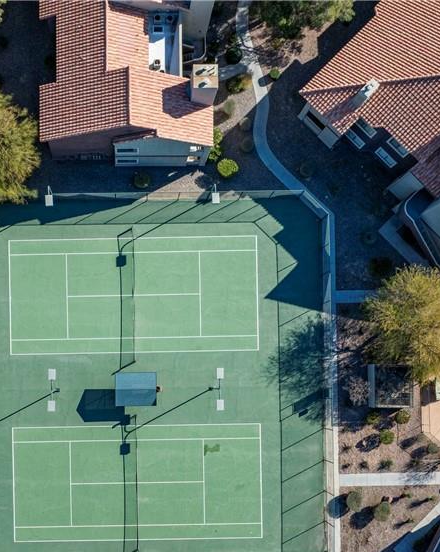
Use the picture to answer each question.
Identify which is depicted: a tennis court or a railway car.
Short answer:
tennis court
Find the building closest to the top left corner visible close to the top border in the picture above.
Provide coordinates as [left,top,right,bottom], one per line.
[38,0,219,166]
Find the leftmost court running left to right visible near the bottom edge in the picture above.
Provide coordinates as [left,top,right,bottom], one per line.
[12,424,263,543]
